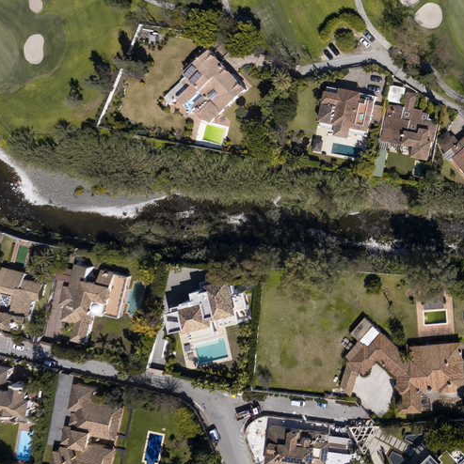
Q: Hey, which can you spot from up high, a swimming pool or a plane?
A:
swimming pool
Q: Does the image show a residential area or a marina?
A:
residential area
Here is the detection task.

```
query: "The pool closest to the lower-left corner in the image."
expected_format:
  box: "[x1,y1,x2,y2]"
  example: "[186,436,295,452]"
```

[14,431,34,462]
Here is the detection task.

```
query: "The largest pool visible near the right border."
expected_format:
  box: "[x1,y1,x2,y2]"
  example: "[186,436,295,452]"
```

[422,310,447,326]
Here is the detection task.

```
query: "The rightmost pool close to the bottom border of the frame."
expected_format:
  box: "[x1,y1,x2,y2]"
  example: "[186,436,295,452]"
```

[141,432,165,464]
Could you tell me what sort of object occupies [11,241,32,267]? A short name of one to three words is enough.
swimming pool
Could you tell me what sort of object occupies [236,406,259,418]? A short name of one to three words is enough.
vehicle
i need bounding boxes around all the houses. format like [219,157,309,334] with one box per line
[380,91,440,161]
[58,261,127,344]
[164,280,253,335]
[0,267,47,333]
[52,380,129,464]
[338,315,464,417]
[262,422,330,464]
[166,47,250,123]
[0,354,39,419]
[312,84,379,139]
[438,134,464,171]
